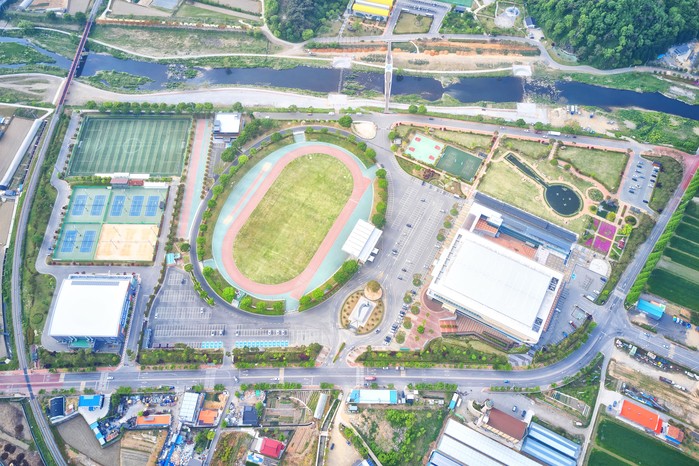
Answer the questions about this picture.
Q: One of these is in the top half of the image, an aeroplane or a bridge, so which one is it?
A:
bridge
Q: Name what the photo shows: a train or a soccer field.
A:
soccer field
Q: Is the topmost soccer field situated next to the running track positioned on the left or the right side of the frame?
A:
left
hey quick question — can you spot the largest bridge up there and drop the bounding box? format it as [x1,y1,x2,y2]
[56,20,96,104]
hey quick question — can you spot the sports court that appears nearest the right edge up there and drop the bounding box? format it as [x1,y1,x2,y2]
[436,145,483,182]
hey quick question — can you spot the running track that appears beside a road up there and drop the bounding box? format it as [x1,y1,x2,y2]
[202,132,381,318]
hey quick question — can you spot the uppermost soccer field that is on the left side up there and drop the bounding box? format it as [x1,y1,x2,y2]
[63,115,193,181]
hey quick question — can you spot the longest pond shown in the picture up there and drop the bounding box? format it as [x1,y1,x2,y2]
[499,147,586,218]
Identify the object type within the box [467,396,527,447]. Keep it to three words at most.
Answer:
building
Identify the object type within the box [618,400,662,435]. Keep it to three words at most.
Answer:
building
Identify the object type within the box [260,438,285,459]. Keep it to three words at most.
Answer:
house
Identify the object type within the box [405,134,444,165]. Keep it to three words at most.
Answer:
basketball court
